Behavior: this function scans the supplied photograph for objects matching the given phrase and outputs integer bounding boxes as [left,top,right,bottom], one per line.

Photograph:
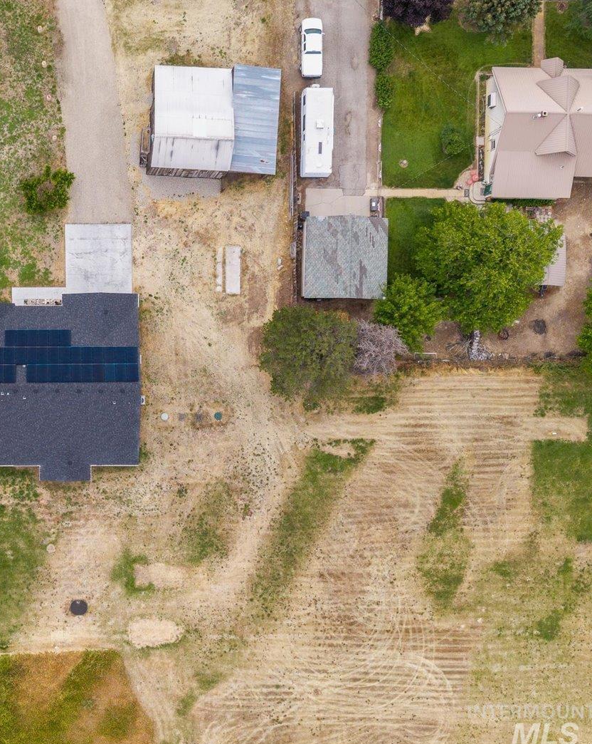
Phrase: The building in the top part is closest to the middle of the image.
[298,215,388,300]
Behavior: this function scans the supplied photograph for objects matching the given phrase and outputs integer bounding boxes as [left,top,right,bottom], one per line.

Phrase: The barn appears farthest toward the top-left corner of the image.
[148,66,234,176]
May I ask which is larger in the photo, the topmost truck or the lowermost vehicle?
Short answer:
the vehicle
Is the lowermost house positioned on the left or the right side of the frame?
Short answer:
left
